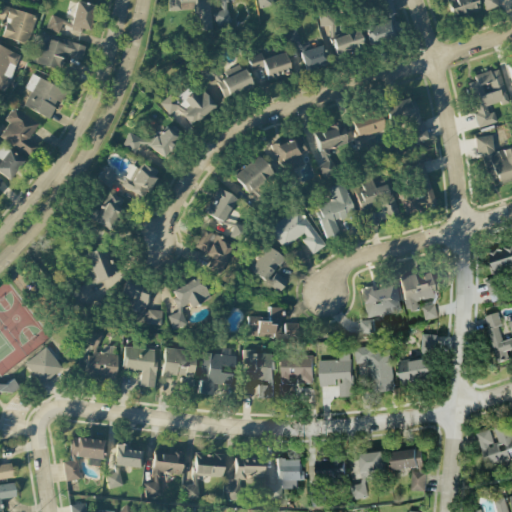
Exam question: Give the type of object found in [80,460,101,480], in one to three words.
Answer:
swimming pool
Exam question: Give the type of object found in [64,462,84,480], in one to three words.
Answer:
building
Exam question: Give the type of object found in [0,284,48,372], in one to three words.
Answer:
basketball court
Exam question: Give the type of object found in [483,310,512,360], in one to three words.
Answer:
house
